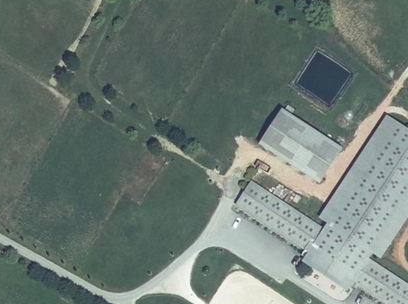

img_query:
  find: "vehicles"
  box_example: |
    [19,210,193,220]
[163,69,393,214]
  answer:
[232,218,242,230]
[355,294,362,304]
[292,254,300,265]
